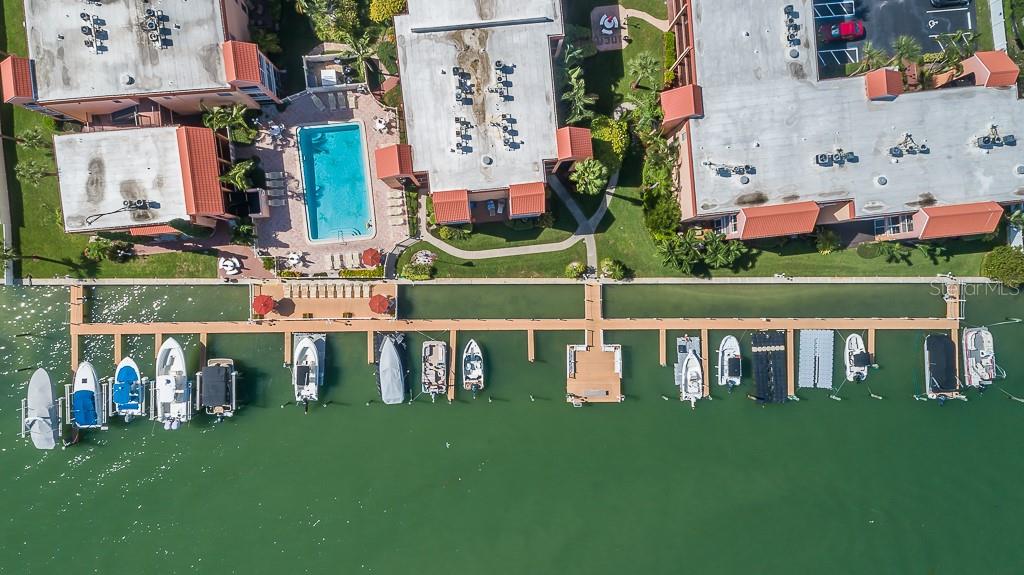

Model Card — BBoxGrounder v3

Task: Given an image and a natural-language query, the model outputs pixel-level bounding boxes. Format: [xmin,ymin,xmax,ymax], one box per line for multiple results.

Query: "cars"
[817,20,866,45]
[924,0,971,10]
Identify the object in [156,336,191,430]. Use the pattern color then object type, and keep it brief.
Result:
white boat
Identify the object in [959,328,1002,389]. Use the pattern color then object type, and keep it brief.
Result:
white boat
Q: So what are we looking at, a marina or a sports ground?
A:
marina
